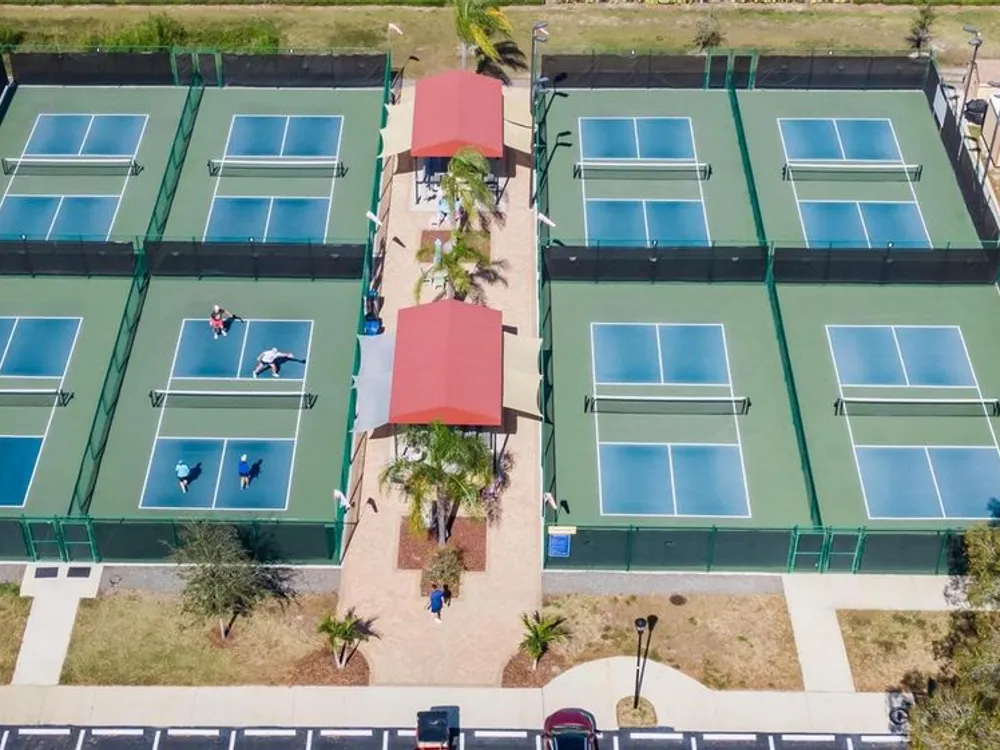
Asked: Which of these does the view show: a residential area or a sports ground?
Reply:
sports ground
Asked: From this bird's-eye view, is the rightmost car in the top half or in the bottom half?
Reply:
bottom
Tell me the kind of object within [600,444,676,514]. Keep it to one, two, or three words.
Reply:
sports court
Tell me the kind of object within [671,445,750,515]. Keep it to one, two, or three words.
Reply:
sports court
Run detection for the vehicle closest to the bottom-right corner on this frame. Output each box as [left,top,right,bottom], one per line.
[540,710,604,750]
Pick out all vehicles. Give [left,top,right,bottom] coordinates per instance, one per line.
[540,710,604,750]
[416,711,452,750]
